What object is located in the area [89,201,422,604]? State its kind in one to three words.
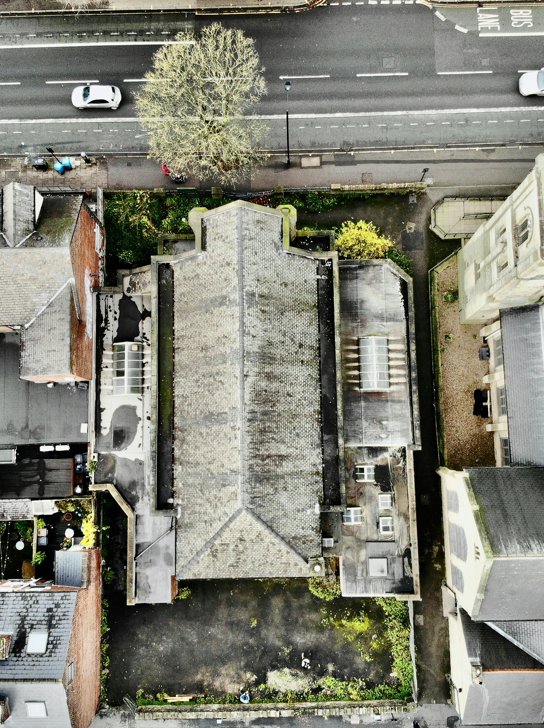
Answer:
church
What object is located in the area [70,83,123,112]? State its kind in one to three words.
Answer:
car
